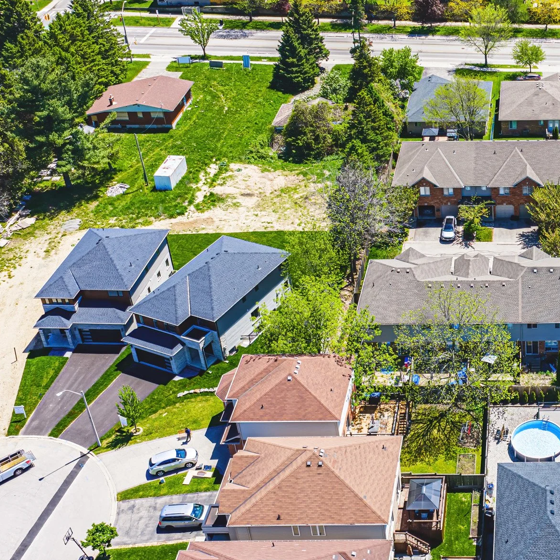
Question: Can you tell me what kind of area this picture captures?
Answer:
residential area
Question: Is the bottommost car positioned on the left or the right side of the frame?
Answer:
left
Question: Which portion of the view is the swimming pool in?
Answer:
bottom right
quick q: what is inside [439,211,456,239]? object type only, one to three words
car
